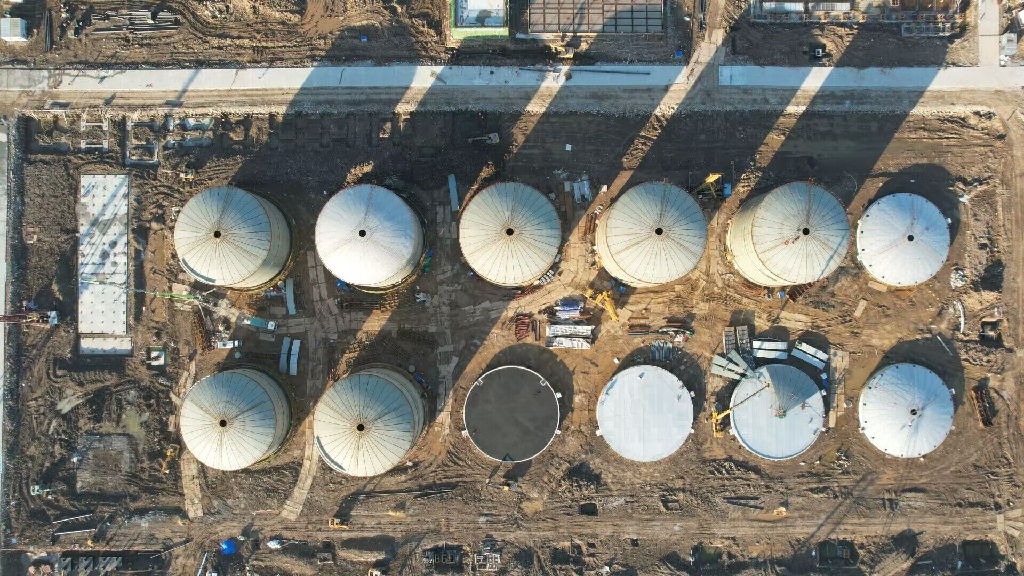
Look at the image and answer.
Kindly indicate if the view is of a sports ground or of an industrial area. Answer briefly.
industrial area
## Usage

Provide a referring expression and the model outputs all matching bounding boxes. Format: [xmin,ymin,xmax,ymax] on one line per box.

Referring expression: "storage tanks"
[314,180,427,289]
[459,178,562,288]
[173,183,295,288]
[723,177,852,287]
[313,363,427,477]
[594,363,694,462]
[856,362,957,457]
[854,193,953,287]
[594,177,708,287]
[463,363,561,462]
[725,362,826,460]
[179,363,299,470]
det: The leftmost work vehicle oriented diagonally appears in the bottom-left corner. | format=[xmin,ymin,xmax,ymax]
[81,534,103,550]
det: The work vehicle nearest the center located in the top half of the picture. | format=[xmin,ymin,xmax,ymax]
[468,131,501,144]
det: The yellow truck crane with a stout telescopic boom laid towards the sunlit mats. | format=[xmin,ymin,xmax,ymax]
[585,283,620,322]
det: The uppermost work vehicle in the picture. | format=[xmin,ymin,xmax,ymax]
[547,41,578,58]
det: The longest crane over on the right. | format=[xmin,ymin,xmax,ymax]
[710,381,770,441]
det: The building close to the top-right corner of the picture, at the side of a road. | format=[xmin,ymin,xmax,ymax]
[999,30,1022,55]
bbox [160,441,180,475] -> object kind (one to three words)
work vehicle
